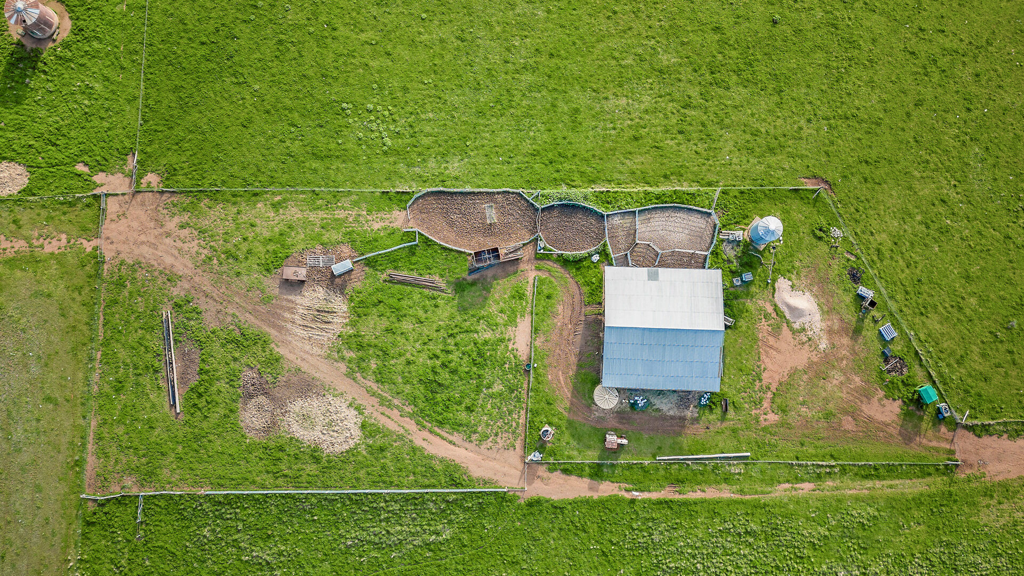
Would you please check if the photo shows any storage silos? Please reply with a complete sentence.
Yes, a storage silo appears in the view.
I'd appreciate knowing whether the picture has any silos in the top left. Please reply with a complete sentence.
Yes, the scene does show a silo in the top left.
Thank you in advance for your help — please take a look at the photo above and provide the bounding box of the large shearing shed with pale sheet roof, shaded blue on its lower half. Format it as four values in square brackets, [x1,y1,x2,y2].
[599,266,727,393]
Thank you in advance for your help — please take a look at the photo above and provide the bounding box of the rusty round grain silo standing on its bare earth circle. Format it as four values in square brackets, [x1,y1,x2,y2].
[4,0,59,38]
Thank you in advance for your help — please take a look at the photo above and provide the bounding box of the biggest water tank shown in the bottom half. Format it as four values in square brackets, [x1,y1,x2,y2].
[592,385,619,410]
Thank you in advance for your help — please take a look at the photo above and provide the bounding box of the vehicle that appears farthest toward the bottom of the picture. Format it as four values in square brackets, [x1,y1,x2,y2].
[605,429,628,451]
